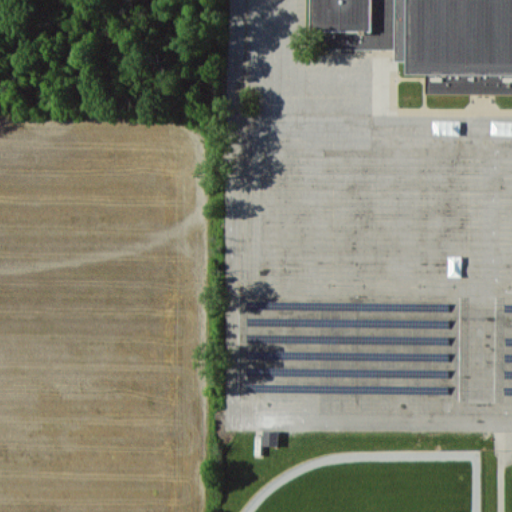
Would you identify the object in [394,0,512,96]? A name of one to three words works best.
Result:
building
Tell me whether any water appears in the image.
No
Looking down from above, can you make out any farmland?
Yes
